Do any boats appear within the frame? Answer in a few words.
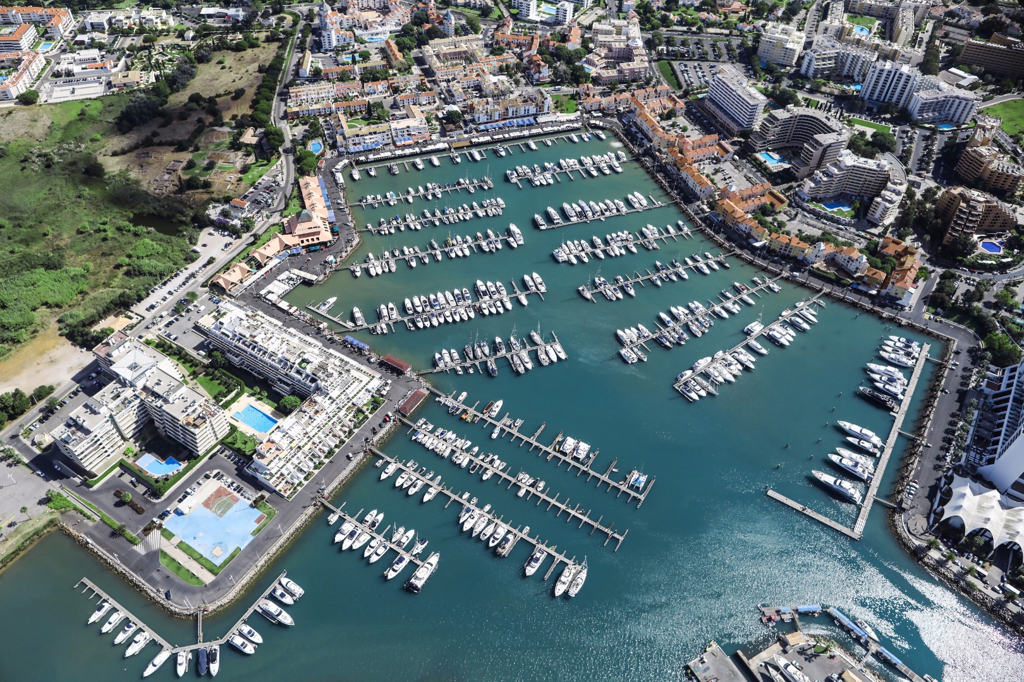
Yes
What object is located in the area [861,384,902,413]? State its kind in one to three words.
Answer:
boat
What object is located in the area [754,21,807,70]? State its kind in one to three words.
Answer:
building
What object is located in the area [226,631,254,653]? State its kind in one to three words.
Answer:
boat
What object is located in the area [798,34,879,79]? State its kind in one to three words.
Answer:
building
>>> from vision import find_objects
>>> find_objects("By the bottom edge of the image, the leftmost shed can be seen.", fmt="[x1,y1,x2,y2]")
[783,628,806,651]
